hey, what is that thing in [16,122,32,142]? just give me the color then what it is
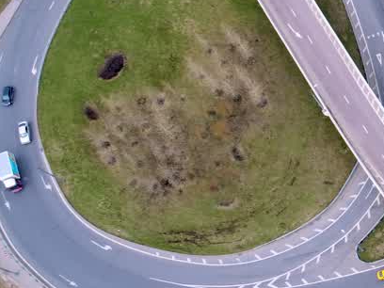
white car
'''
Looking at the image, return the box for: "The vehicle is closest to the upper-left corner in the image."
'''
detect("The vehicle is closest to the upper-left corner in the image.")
[0,85,15,106]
